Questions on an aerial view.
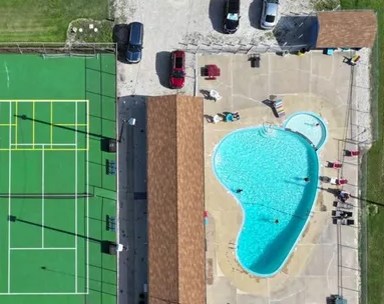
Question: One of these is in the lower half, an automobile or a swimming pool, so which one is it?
swimming pool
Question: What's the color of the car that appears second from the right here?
black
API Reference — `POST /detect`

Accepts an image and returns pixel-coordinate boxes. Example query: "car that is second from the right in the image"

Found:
[220,0,241,35]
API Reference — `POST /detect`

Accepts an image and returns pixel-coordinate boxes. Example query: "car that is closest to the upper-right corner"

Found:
[259,0,278,30]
